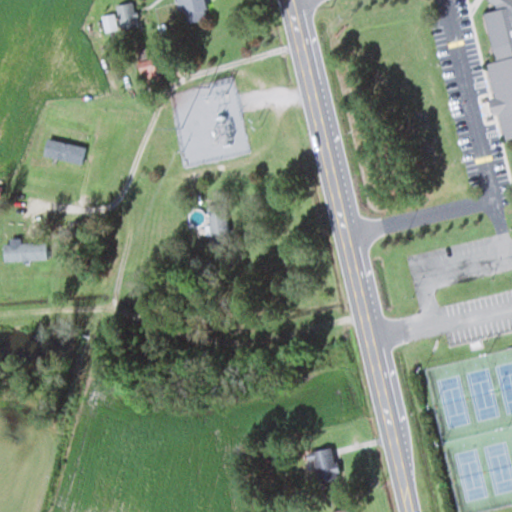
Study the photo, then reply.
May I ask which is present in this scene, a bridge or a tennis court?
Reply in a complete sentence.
There is a tennis court in the scene.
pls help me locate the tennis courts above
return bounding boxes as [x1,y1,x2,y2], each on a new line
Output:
[437,376,472,430]
[466,368,500,422]
[495,362,512,415]
[483,442,512,496]
[454,449,488,503]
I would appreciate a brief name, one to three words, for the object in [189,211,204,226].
swimming pool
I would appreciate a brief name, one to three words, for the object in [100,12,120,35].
barn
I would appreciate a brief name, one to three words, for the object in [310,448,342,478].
house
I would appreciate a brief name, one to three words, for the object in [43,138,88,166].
house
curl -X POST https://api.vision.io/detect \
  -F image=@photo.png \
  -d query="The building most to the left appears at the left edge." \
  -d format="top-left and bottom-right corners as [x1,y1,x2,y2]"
[2,236,47,266]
